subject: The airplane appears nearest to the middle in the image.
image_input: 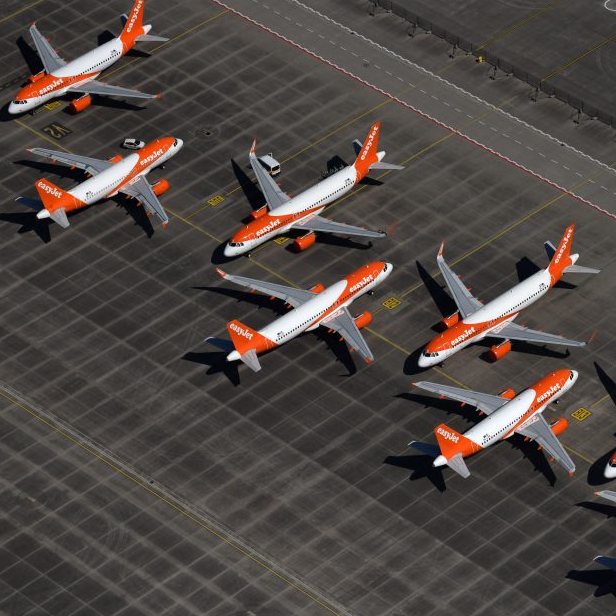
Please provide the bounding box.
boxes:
[203,262,392,372]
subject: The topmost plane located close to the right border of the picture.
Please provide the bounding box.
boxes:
[416,223,602,366]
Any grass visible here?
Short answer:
No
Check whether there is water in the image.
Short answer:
No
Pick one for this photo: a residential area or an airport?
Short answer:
airport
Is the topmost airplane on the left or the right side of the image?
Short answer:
left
